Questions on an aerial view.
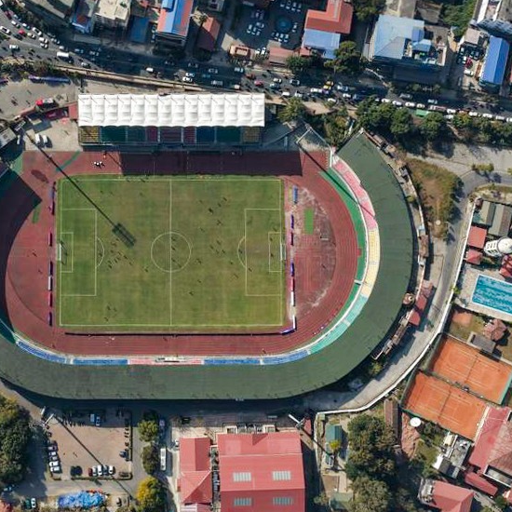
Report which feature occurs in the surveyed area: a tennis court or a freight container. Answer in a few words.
tennis court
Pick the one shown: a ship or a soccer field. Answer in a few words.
soccer field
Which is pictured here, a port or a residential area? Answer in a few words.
residential area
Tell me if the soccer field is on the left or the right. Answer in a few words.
left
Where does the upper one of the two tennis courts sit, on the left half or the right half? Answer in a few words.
right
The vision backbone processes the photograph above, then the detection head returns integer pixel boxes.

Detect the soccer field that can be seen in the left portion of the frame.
[53,174,288,330]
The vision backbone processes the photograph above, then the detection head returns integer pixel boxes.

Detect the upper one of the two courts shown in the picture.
[432,336,512,405]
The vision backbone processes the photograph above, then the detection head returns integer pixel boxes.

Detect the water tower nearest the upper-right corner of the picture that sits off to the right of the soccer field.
[482,238,512,256]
